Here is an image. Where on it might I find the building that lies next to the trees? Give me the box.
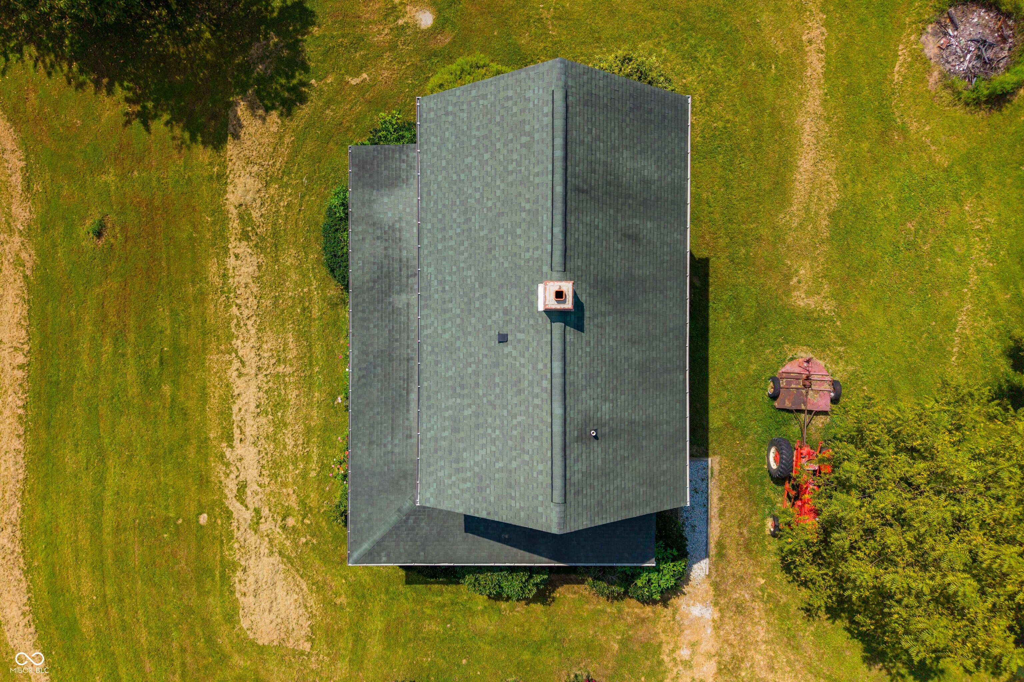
[348,57,692,566]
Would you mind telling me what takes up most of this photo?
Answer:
grass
